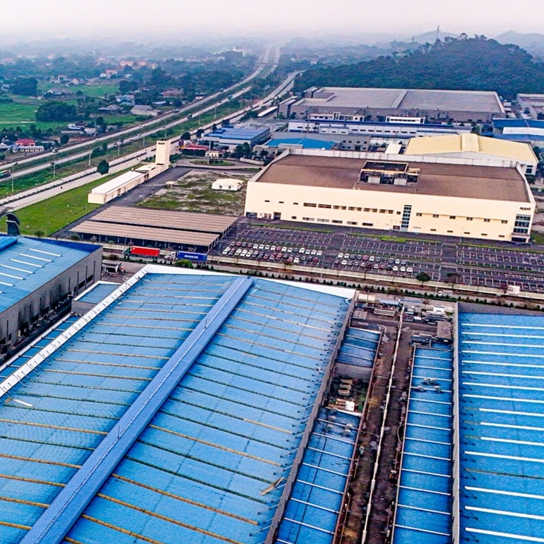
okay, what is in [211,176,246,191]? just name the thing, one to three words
tent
